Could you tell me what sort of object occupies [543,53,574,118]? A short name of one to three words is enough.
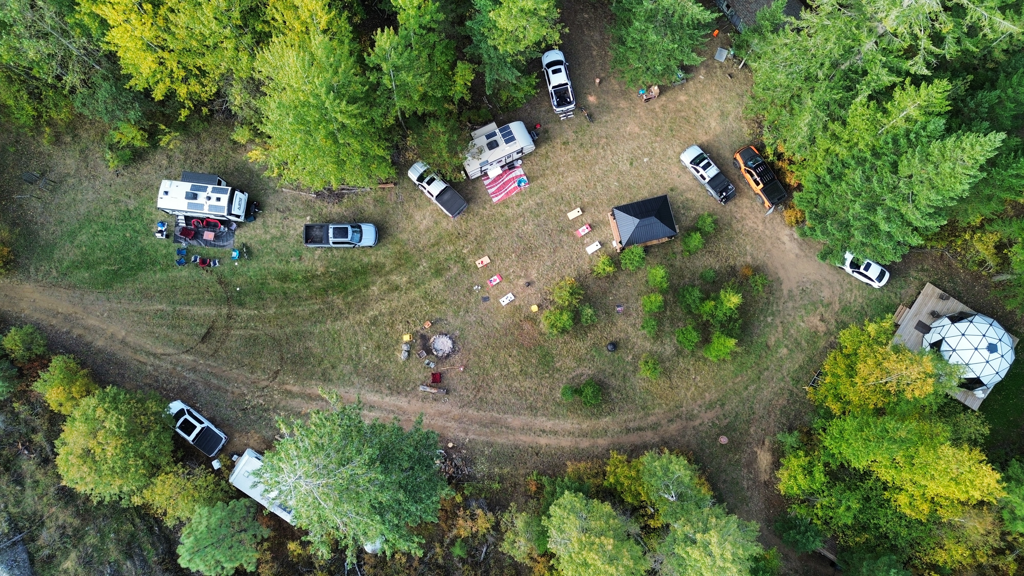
truck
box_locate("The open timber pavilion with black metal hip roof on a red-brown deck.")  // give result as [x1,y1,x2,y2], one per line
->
[606,194,678,254]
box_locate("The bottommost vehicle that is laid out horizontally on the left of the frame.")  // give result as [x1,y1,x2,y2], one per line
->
[302,221,381,250]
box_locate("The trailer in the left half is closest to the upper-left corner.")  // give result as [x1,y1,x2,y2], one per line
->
[159,171,259,227]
